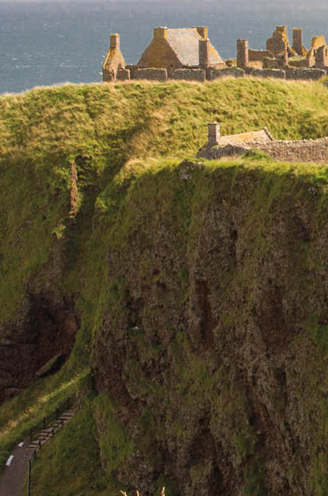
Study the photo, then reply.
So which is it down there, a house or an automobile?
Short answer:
house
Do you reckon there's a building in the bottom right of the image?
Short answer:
No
